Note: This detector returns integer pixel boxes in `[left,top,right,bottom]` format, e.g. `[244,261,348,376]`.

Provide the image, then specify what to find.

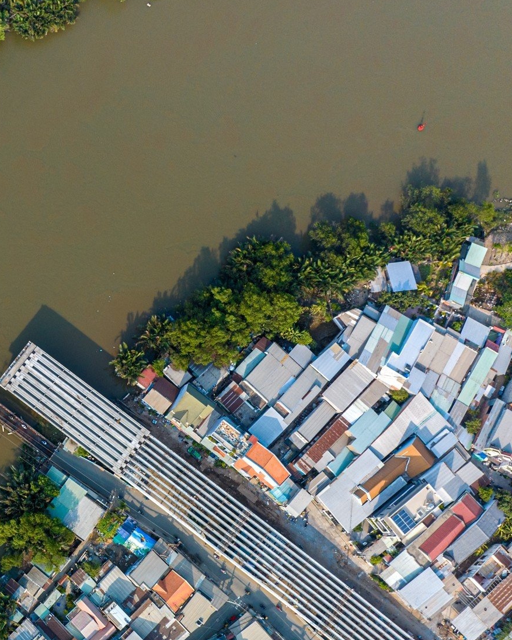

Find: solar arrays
[393,508,415,533]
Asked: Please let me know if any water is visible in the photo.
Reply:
Yes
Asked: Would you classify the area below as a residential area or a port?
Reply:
residential area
